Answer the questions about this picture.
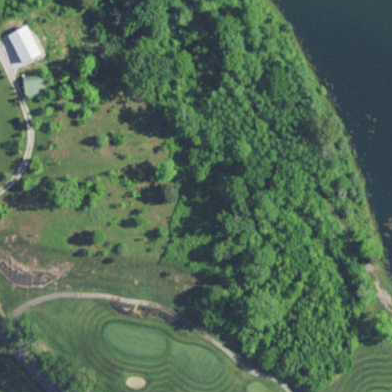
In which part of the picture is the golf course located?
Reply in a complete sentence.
The golf course is in the bottom part of the image.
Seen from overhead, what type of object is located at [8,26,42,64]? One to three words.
barn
